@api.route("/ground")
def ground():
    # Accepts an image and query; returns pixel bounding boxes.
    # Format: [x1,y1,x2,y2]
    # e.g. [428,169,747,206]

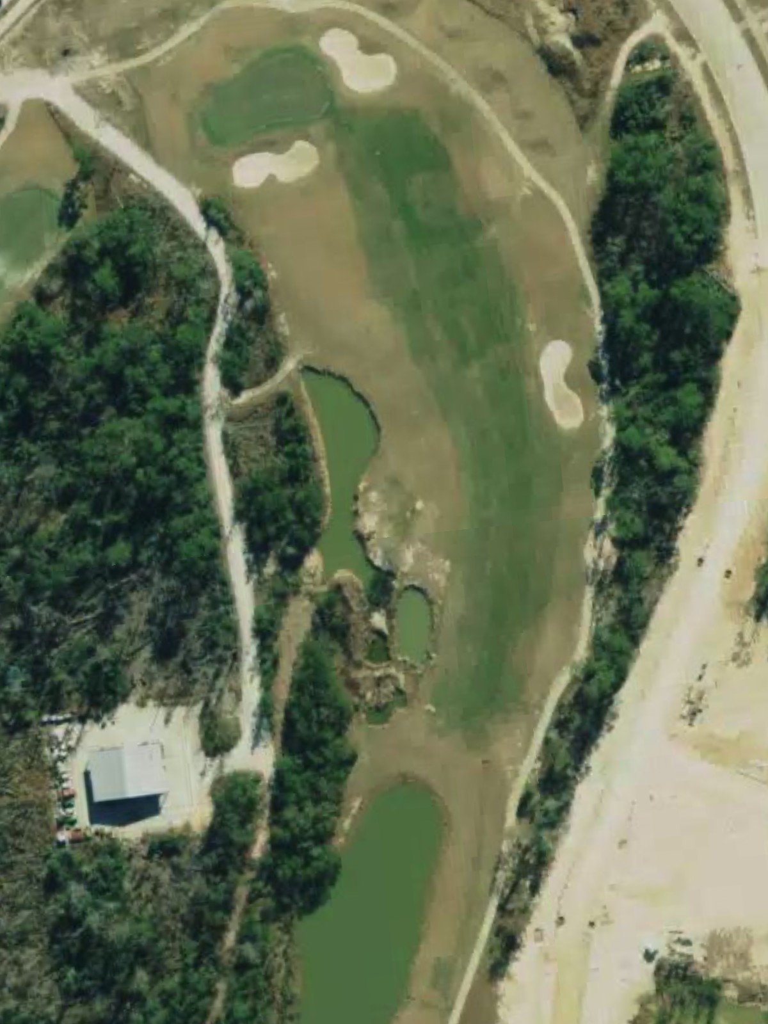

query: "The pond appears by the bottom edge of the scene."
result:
[294,780,446,1024]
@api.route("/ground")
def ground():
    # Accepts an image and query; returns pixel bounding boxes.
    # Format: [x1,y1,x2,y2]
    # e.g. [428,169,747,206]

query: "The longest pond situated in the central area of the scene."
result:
[303,367,391,607]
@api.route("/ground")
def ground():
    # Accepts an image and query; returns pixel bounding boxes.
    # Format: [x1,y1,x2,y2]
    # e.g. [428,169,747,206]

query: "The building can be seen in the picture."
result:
[87,742,170,805]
